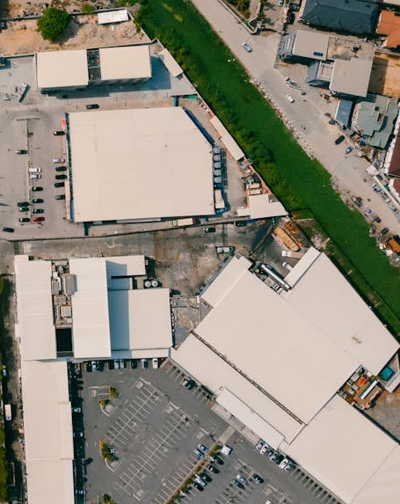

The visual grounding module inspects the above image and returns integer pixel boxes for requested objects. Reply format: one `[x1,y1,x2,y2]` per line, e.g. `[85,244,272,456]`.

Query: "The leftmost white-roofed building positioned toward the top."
[36,51,88,91]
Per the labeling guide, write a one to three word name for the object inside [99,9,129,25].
shed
